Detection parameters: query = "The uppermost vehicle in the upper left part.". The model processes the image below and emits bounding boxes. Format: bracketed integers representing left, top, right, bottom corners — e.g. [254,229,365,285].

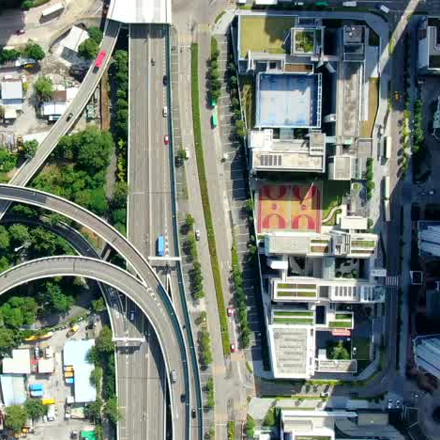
[42,2,63,18]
